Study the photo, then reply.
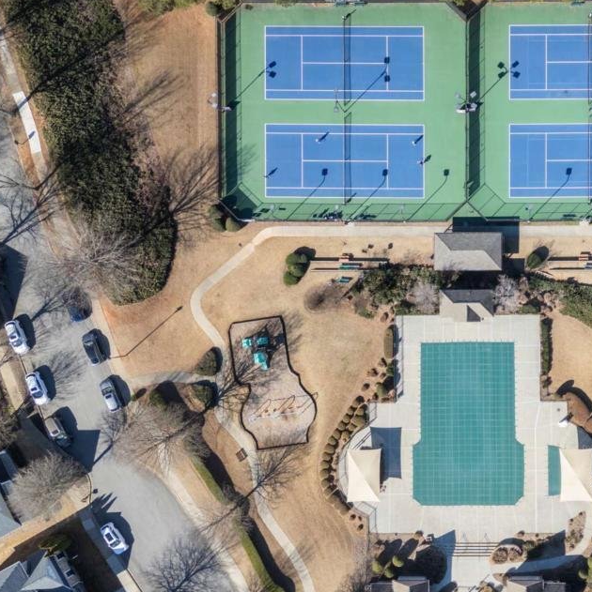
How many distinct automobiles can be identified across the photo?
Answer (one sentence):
The picture shows 7 automobiles.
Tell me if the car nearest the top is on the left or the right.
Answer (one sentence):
The car nearest the top sits on the left side.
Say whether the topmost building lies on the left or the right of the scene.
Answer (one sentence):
You can find the topmost building on the right side of the picture.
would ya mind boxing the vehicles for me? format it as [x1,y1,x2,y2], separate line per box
[81,329,105,364]
[45,414,70,447]
[25,372,47,405]
[68,288,89,321]
[99,377,121,412]
[101,522,125,556]
[6,321,29,354]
